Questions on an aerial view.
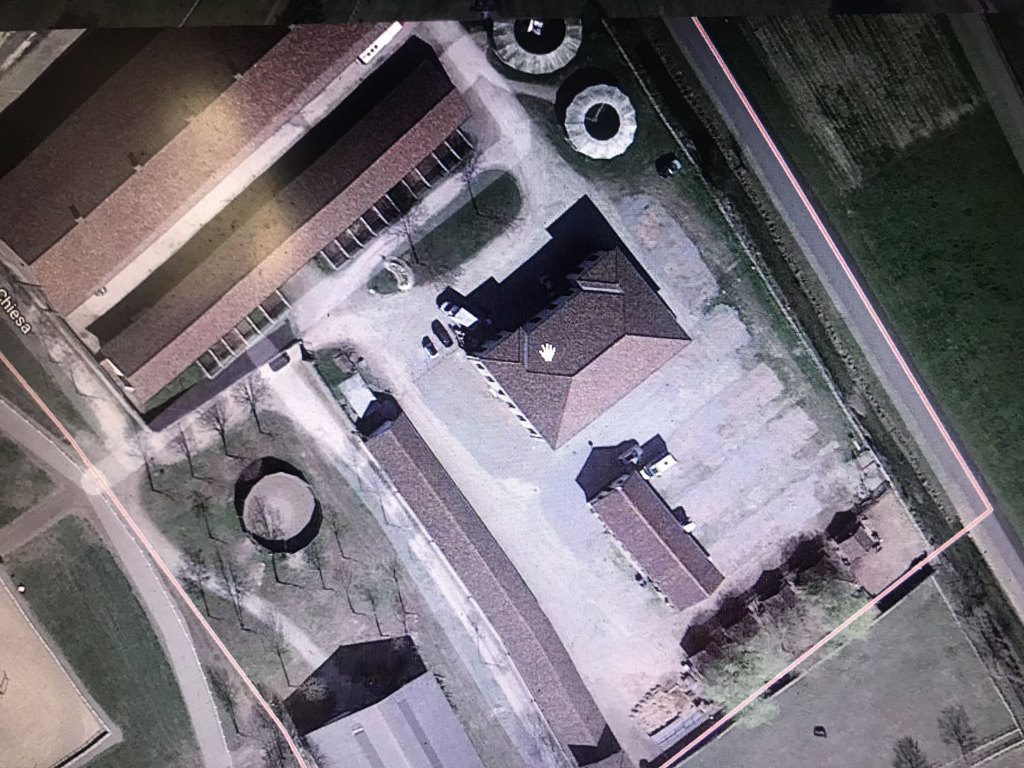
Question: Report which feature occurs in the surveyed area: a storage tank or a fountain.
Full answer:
I can see a storage tank in this picture.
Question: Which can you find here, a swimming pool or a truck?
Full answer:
There is a truck in the scene.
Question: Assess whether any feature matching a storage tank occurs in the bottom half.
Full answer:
Yes, I can see a storage tank in the bottom half.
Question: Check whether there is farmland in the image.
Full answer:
Yes, farmland shows up in the scene.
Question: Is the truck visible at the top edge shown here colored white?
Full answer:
Yes, white is the color of the truck visible at the top edge.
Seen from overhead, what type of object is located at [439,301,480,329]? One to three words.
truck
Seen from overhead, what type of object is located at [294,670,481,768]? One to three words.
building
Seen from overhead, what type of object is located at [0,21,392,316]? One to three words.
barn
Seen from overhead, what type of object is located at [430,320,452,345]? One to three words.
car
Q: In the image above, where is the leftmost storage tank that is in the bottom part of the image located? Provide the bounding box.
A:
[235,470,324,553]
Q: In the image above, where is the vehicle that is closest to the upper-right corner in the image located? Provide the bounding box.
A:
[661,160,679,176]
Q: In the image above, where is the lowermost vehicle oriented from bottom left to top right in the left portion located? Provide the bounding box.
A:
[268,352,290,369]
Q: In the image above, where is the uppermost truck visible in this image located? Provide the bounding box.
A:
[359,16,407,63]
